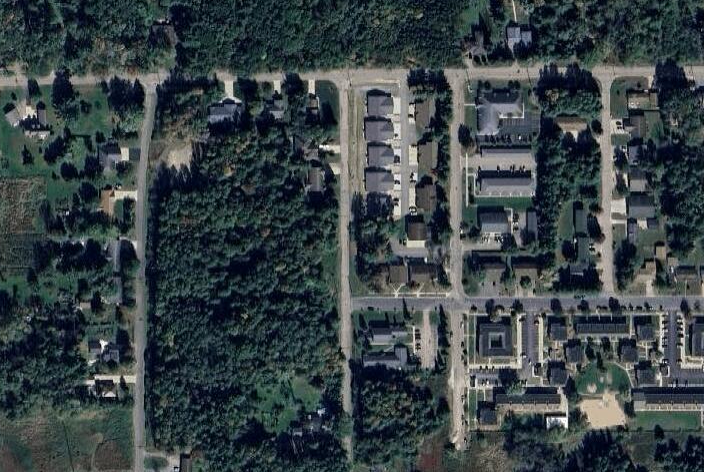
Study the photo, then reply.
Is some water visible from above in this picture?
No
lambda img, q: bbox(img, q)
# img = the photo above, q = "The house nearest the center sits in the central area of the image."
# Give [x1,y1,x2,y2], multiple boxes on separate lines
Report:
[368,197,393,218]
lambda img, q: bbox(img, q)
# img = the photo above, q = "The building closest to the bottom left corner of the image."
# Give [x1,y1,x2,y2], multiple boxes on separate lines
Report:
[90,380,114,395]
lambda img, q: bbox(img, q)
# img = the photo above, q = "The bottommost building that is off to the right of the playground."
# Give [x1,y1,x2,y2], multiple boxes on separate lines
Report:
[633,391,704,405]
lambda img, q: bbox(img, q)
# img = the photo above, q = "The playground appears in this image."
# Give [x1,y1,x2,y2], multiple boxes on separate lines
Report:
[580,392,625,427]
